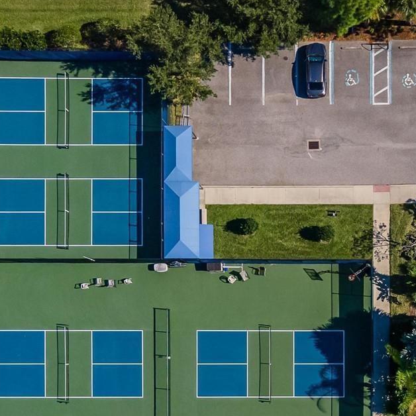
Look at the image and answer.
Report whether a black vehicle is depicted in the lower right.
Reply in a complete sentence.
No, looking in the lower right, there is no black vehicle.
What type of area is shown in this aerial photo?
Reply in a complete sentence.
This image shows a sports ground.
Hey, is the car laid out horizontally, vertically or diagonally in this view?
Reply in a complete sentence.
I'd say the car is aligned vertically in the picture.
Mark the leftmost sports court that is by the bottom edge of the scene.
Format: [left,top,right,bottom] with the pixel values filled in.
[0,330,143,398]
